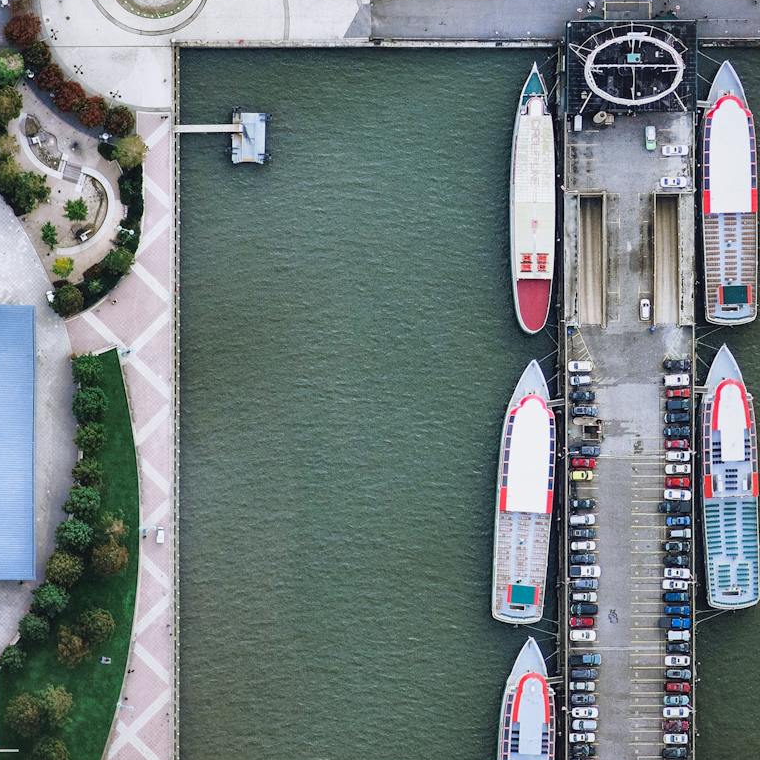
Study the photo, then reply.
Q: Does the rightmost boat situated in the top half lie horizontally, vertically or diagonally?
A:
vertically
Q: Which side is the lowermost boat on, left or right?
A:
right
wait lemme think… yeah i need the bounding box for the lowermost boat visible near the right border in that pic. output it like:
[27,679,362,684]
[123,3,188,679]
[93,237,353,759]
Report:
[699,345,760,612]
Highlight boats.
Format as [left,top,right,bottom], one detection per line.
[511,62,555,335]
[699,60,758,326]
[699,345,760,612]
[492,359,556,626]
[498,638,555,760]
